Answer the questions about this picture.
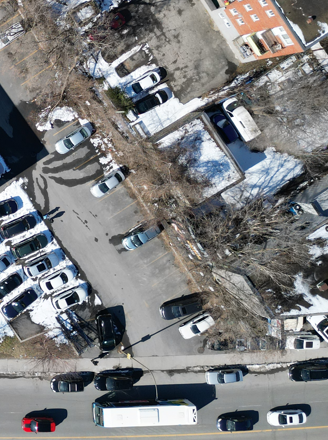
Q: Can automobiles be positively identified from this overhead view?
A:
Yes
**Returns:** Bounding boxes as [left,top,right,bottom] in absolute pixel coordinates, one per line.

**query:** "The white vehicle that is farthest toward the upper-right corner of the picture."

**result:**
[220,99,264,142]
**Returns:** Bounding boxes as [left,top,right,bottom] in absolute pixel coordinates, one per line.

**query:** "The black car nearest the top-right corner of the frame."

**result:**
[210,112,242,145]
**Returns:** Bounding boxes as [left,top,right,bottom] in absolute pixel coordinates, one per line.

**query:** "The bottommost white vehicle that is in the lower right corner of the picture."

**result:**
[266,408,307,429]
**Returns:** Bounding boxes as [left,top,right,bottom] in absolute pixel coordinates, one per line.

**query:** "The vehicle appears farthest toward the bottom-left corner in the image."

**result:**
[22,415,57,435]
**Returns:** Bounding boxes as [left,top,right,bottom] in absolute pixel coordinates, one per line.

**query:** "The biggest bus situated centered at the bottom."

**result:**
[85,395,198,426]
